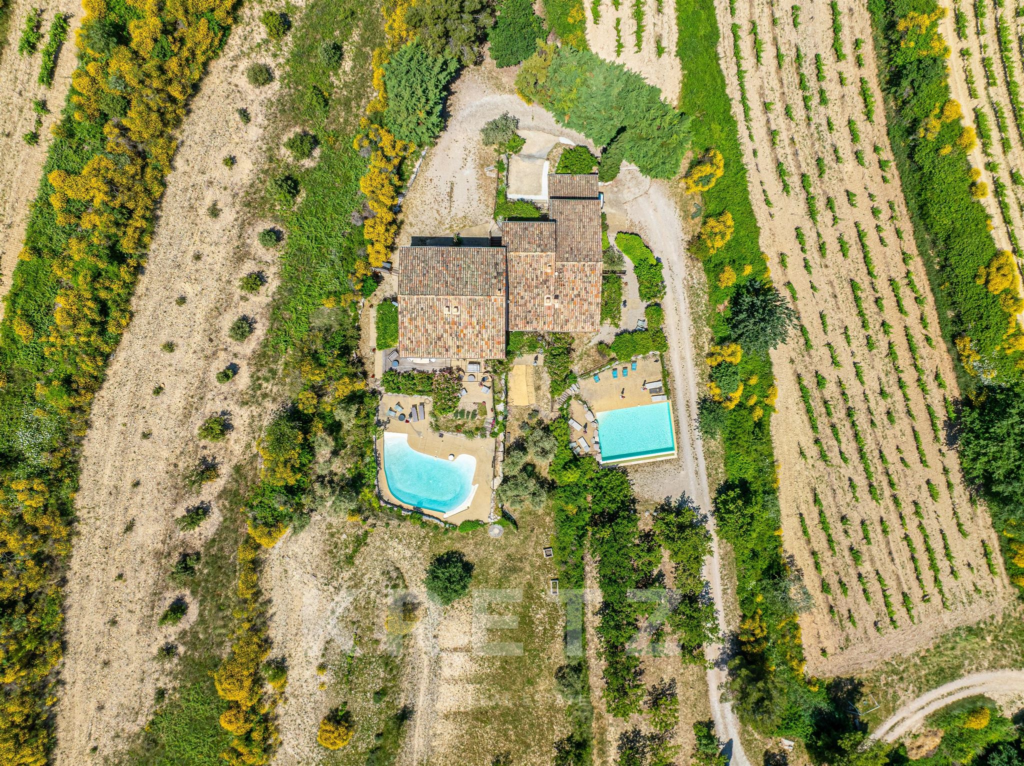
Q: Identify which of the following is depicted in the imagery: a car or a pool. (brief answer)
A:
pool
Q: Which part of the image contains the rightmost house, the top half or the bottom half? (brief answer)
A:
top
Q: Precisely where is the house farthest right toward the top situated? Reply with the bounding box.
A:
[396,173,603,359]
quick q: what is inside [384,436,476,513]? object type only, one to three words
swimming pool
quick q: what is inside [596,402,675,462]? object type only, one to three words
swimming pool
